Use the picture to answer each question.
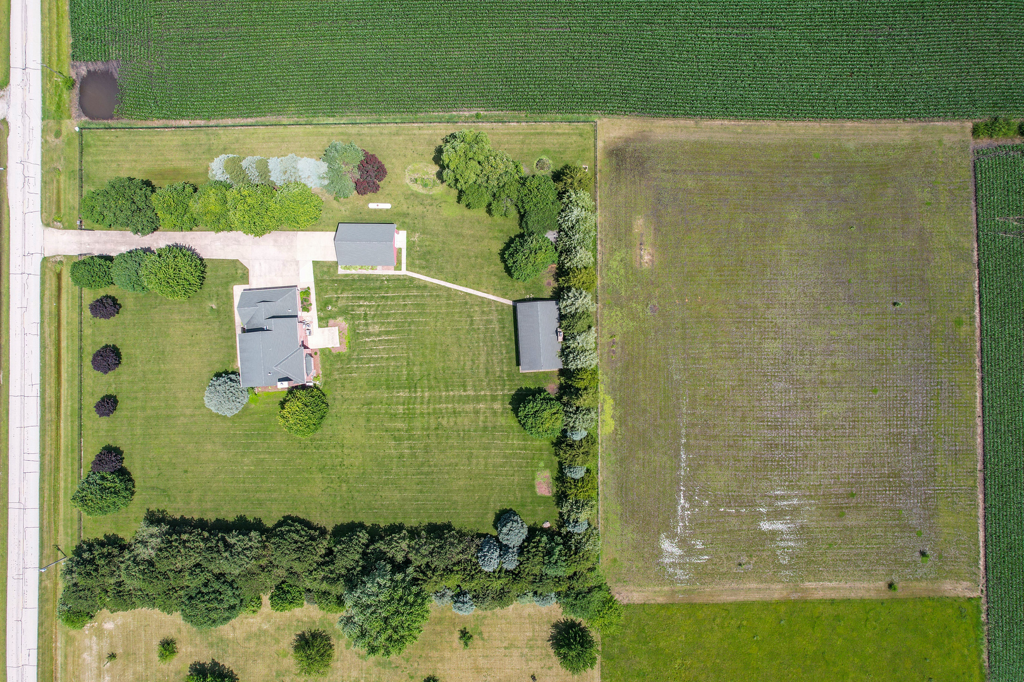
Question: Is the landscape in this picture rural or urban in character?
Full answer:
The area shown here is rural.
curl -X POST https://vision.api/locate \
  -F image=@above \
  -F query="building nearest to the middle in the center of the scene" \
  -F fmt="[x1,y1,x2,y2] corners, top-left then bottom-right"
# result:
[517,300,564,371]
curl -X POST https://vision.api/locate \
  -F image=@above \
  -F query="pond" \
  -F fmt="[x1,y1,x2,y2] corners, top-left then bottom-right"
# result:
[79,69,119,119]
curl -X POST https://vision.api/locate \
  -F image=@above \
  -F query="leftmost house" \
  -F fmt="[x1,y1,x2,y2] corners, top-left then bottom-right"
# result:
[237,287,316,388]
